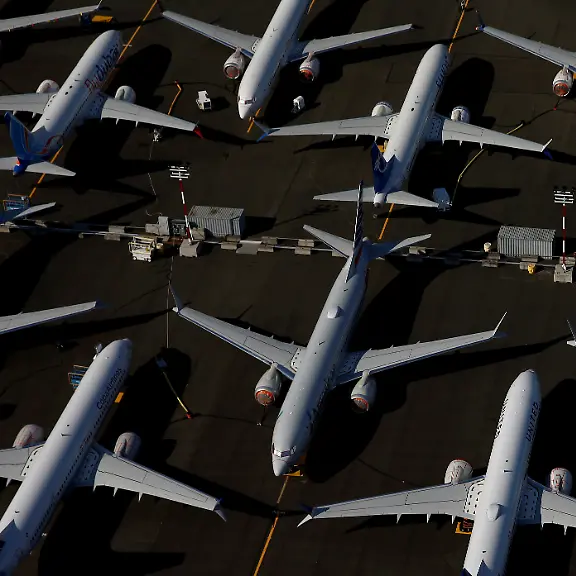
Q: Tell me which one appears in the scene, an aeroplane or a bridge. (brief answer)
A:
aeroplane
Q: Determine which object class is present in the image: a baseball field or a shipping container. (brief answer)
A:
shipping container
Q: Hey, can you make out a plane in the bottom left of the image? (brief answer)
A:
Yes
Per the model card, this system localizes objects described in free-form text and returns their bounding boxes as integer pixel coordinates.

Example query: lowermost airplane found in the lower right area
[297,372,576,576]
